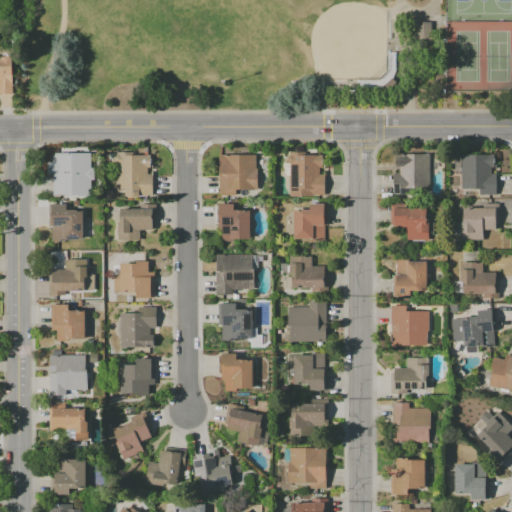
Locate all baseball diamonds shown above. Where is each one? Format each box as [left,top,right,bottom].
[311,2,387,80]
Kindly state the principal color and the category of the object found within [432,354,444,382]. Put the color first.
blue swimming pool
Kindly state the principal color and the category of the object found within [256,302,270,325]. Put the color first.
blue swimming pool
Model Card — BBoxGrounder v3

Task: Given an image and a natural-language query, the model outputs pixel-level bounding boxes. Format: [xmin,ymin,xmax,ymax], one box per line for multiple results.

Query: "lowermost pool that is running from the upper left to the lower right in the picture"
[246,450,268,471]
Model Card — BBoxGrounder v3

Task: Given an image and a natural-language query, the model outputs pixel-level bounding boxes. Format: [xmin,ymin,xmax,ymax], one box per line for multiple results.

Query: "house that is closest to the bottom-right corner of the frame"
[456,464,487,501]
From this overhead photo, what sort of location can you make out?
residential area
